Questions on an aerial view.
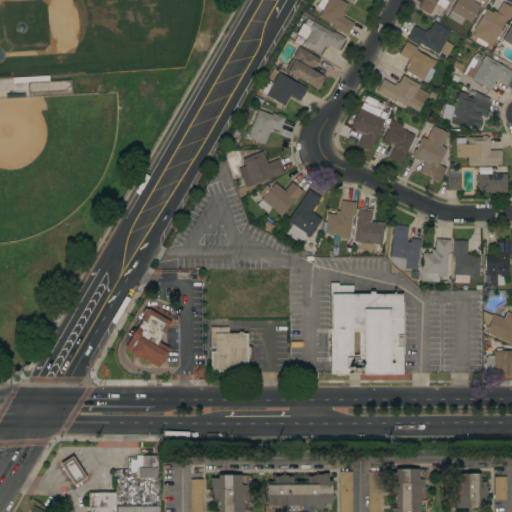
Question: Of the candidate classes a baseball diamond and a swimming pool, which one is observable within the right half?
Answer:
swimming pool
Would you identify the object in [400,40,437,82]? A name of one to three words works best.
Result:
house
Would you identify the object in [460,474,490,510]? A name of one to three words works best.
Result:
building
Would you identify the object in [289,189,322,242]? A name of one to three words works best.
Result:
house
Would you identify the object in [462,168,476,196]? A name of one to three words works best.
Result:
swimming pool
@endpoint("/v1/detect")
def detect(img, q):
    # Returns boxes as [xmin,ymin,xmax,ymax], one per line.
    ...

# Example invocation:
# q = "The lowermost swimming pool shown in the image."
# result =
[485,290,508,314]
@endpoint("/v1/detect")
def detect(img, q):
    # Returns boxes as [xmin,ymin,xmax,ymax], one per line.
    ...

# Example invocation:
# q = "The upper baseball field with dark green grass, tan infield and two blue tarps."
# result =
[0,0,206,77]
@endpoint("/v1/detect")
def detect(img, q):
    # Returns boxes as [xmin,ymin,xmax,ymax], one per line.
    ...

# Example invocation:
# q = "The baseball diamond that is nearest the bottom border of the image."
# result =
[0,91,118,244]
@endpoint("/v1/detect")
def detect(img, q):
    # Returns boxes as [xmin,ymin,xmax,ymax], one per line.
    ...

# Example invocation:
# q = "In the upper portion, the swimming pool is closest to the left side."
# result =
[277,40,300,66]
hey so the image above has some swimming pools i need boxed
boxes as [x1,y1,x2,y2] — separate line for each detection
[462,168,476,196]
[485,290,508,314]
[277,40,300,66]
[496,42,512,66]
